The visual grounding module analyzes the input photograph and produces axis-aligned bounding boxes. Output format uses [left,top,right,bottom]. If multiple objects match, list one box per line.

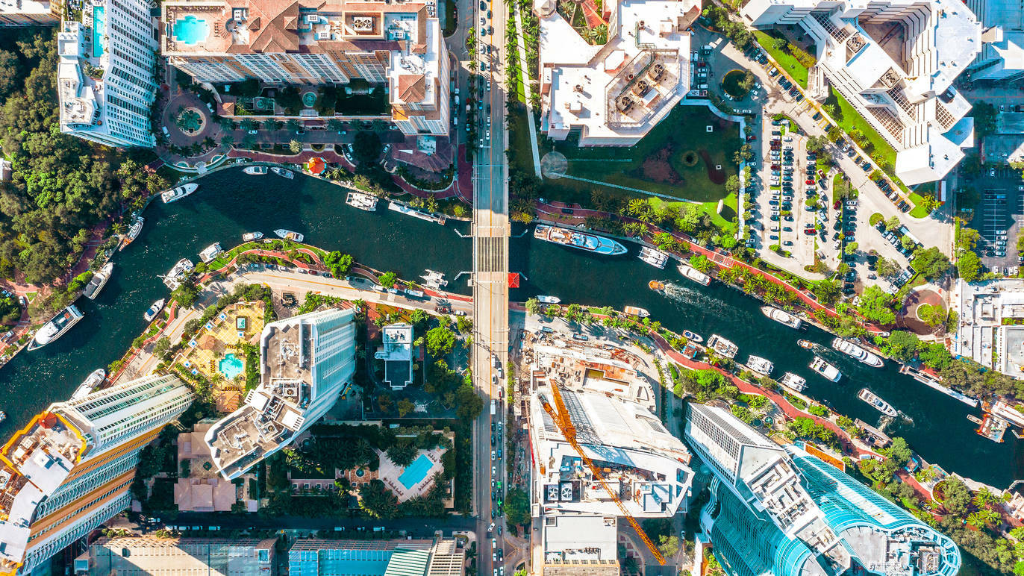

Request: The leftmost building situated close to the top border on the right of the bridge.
[531,0,702,143]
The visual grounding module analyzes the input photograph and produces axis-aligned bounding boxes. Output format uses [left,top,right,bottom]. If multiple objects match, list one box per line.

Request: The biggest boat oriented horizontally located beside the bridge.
[532,222,629,252]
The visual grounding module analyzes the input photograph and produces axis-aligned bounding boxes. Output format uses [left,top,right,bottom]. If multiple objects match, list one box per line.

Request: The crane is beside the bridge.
[544,371,668,569]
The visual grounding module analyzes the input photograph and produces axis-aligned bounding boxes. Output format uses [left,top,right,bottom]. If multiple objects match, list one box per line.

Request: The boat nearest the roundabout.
[831,336,884,364]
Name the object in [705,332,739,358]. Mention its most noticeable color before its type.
white boat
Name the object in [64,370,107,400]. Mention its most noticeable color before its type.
white boat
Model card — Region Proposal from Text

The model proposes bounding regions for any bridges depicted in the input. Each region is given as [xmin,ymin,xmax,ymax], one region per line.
[467,0,511,576]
